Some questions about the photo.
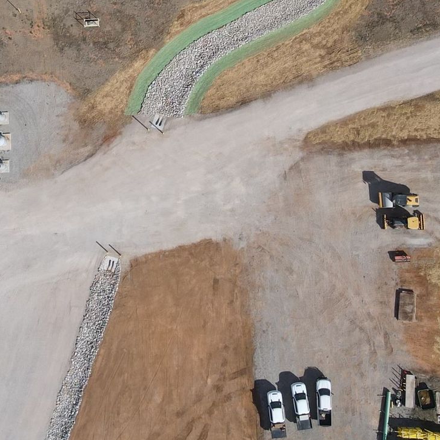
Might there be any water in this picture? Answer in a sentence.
No, there is no water in the image.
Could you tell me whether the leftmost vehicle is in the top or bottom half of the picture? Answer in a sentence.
The leftmost vehicle sits in the bottom half of the picture.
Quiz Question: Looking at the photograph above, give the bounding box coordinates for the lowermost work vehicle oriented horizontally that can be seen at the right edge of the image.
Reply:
[385,215,427,232]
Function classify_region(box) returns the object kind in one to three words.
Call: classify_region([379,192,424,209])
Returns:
work vehicle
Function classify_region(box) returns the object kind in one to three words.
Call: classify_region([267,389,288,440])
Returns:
vehicle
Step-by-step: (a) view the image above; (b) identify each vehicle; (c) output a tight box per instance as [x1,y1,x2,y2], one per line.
[379,192,424,209]
[385,215,427,232]
[267,389,288,440]
[316,375,335,429]
[290,381,314,433]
